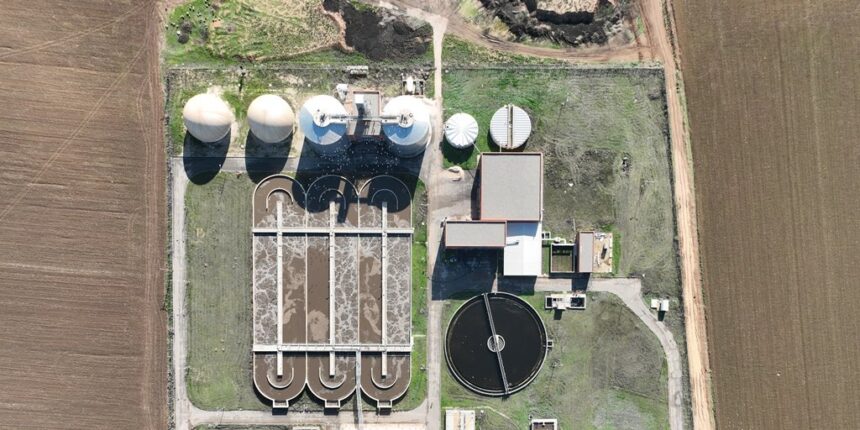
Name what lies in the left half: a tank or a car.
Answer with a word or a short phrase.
tank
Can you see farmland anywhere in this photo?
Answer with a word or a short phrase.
Yes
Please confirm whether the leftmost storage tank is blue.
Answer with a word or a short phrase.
No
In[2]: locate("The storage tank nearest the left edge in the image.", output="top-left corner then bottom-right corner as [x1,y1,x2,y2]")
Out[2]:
[181,92,241,144]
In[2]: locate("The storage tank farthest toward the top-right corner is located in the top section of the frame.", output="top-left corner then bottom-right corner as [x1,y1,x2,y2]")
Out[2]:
[489,104,531,149]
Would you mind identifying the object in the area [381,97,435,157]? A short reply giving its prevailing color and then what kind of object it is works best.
white storage tank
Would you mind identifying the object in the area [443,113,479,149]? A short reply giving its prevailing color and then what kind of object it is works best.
white storage tank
